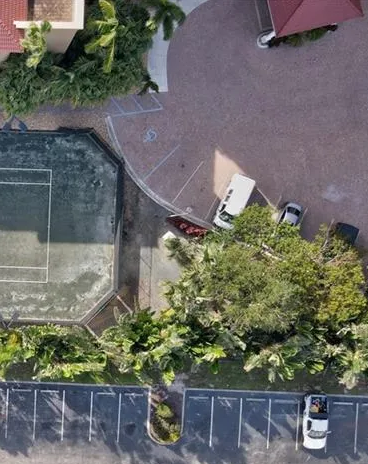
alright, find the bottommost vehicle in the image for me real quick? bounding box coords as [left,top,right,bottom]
[301,393,329,450]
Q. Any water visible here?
No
